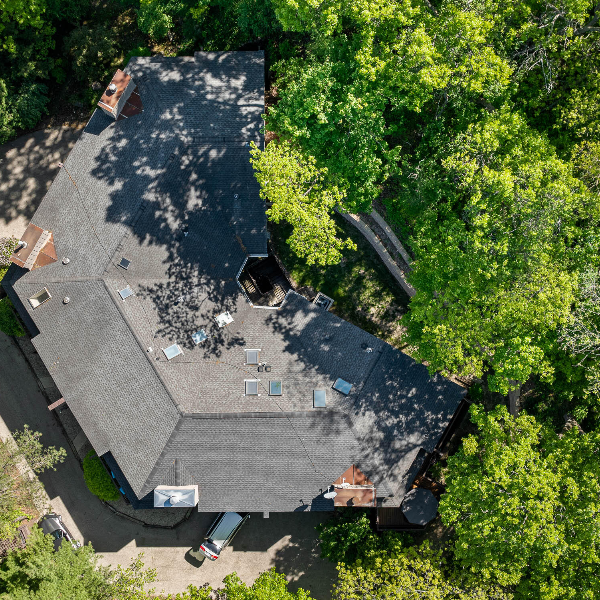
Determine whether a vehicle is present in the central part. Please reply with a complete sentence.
No, looking in the central part, there is no vehicle.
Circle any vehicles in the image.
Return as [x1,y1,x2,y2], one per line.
[198,512,250,562]
[39,512,84,561]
